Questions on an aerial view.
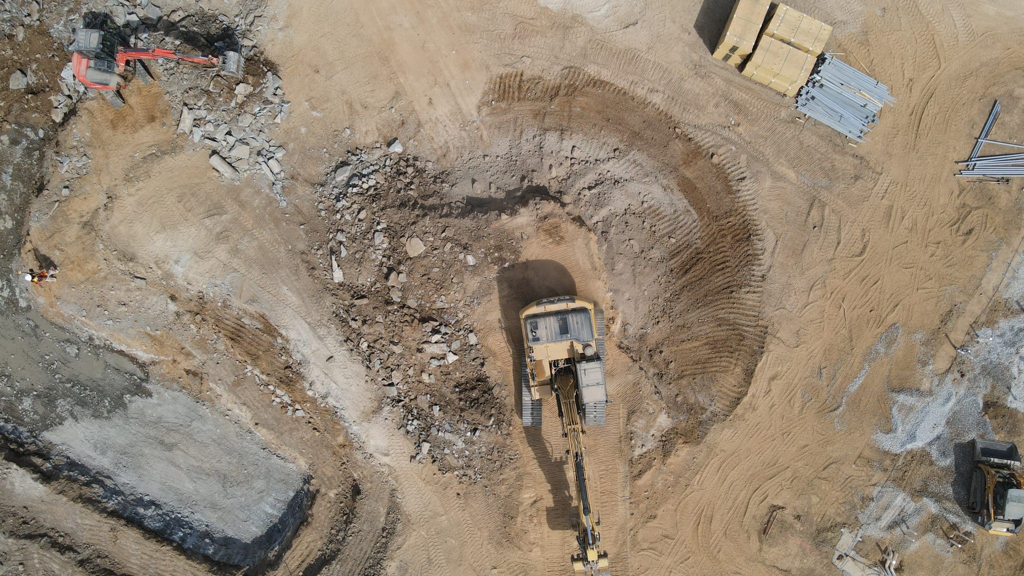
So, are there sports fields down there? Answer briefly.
No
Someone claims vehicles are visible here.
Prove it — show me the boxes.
[73,29,246,109]
[520,296,614,576]
[964,436,1024,536]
